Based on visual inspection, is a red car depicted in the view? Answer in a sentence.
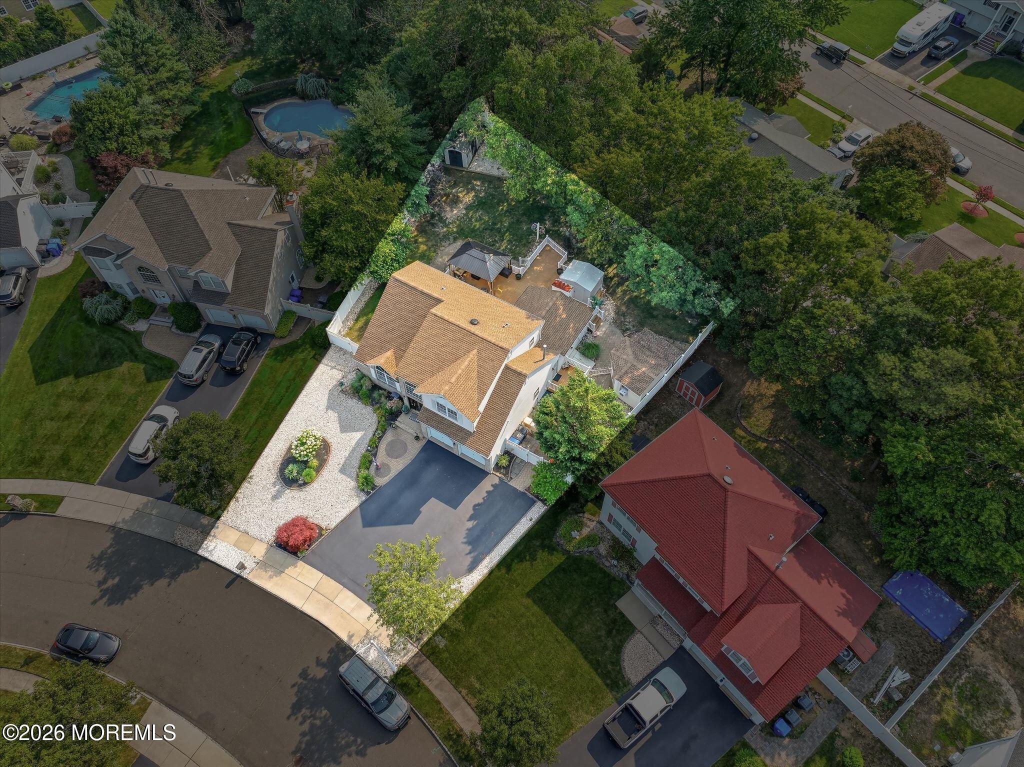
No, I find no red car anywhere in the image.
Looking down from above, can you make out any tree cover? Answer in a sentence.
Yes, the picture does contain tree cover.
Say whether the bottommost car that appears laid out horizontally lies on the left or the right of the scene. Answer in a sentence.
It is on the left.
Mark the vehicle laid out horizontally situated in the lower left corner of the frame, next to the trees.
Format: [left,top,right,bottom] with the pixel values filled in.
[49,627,131,668]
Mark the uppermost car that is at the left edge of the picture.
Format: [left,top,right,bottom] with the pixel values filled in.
[0,263,36,311]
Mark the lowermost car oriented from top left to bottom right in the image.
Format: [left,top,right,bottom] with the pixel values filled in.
[336,653,415,736]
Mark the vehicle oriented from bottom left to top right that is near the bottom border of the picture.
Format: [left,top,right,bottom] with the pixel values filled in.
[599,663,690,755]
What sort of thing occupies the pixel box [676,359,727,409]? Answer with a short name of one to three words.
shed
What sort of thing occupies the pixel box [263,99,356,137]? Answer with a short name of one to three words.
swimming pool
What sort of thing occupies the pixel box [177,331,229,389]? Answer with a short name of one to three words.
car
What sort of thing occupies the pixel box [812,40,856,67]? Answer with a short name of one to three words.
car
